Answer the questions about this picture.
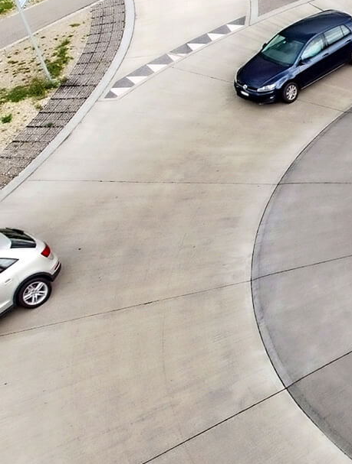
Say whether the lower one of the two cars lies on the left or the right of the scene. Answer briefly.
left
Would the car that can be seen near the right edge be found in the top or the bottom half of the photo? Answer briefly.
top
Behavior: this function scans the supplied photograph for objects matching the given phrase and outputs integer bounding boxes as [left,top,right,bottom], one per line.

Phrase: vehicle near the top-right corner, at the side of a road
[229,10,352,103]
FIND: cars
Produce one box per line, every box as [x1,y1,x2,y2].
[229,10,352,103]
[0,226,54,316]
